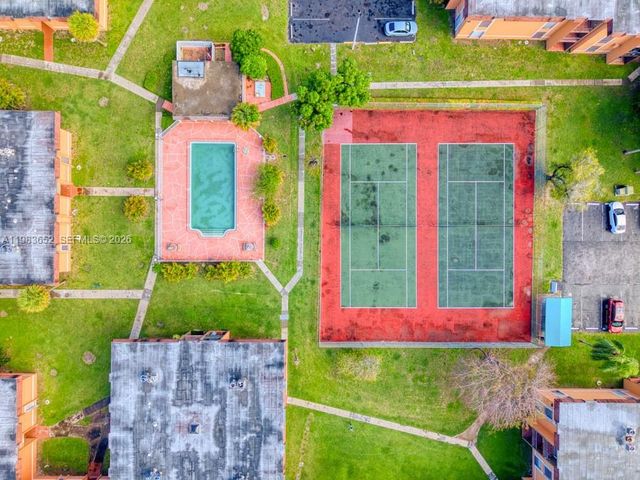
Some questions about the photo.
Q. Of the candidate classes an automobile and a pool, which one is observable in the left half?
pool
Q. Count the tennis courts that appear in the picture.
2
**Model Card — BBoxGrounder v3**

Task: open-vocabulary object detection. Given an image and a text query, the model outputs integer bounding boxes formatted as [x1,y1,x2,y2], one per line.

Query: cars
[607,201,626,234]
[606,299,626,332]
[382,19,416,36]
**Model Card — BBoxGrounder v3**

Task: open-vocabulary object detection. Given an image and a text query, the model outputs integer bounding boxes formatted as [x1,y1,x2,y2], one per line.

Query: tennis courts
[431,144,524,308]
[334,144,425,308]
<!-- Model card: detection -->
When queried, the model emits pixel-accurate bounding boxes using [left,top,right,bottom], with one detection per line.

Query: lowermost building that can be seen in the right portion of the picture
[526,378,640,480]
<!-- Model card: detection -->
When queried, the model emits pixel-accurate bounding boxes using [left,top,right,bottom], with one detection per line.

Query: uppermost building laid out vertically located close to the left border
[0,111,76,284]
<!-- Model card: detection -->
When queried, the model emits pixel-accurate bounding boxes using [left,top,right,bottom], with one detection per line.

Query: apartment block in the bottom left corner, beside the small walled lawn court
[0,371,111,480]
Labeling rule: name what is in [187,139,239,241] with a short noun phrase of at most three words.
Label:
swimming pool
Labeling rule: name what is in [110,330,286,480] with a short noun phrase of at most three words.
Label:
building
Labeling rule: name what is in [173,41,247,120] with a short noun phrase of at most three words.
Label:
building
